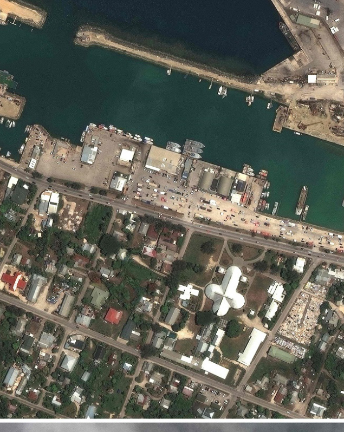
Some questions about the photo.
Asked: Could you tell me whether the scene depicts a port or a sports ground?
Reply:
port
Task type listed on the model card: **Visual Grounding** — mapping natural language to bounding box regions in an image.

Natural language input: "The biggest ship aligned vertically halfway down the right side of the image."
[294,186,307,215]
